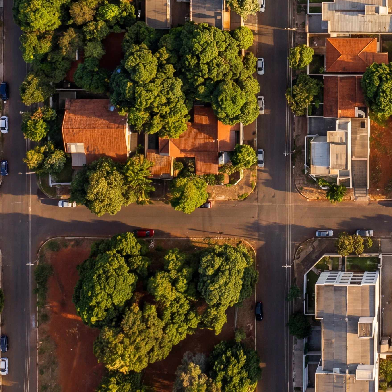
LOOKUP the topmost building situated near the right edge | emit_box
[323,0,392,33]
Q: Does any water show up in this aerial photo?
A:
No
